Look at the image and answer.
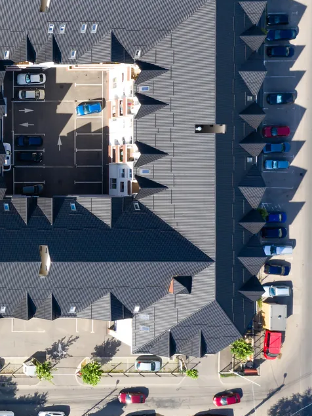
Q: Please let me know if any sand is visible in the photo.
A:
No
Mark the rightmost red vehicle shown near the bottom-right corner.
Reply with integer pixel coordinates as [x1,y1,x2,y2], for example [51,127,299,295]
[265,329,281,360]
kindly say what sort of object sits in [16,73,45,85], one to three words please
vehicle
